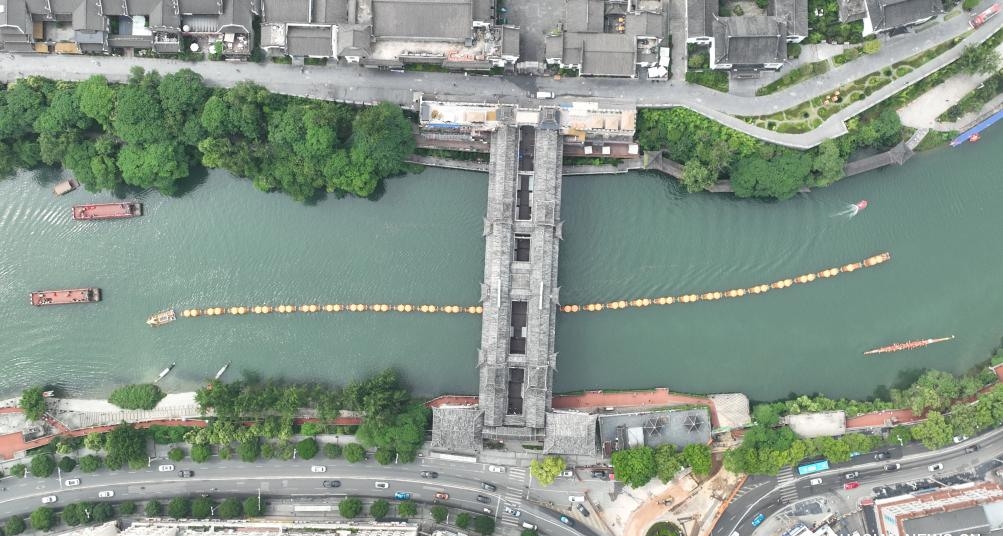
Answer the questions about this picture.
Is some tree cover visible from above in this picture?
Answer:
Yes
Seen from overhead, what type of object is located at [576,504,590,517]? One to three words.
vehicle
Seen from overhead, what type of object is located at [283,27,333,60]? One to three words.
house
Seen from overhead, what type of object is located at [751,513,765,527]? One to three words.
vehicle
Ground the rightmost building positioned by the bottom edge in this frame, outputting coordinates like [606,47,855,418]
[876,480,1003,536]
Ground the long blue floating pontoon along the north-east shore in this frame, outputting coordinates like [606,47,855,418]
[946,109,1003,149]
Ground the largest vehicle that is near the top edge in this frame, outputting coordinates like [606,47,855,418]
[965,3,1000,29]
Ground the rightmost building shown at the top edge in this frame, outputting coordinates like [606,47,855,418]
[867,0,947,34]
